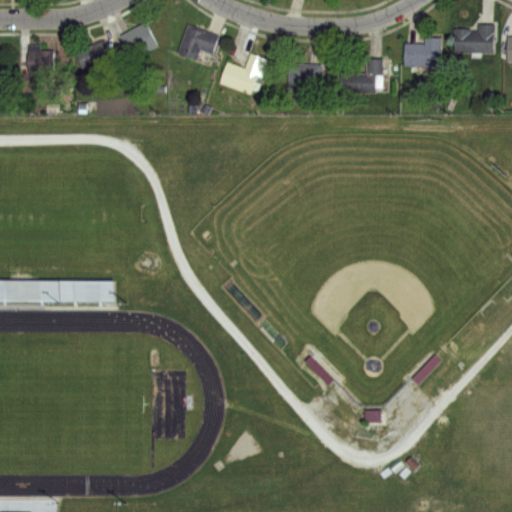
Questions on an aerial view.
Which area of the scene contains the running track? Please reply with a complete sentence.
Look in the bottom left portion of the view to spot the running track.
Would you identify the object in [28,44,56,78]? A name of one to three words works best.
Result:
house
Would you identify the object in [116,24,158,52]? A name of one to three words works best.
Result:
house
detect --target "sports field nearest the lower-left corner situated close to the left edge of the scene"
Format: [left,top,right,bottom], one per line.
[0,332,203,474]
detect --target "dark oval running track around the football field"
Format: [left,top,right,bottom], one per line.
[0,310,226,497]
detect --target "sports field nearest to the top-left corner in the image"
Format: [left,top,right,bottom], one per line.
[0,151,150,276]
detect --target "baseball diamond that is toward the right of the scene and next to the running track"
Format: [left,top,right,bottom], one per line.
[193,135,512,404]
